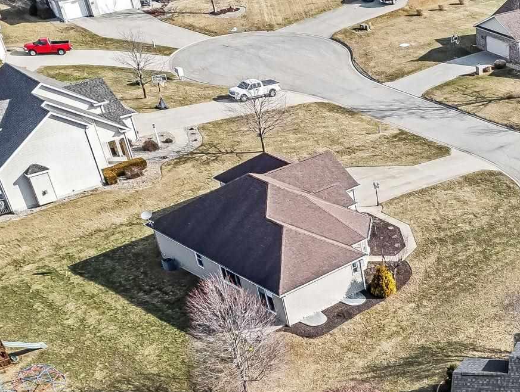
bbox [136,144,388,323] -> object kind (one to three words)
house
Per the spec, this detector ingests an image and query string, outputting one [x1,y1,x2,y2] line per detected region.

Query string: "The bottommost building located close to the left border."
[0,58,137,213]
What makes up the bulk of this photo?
grass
